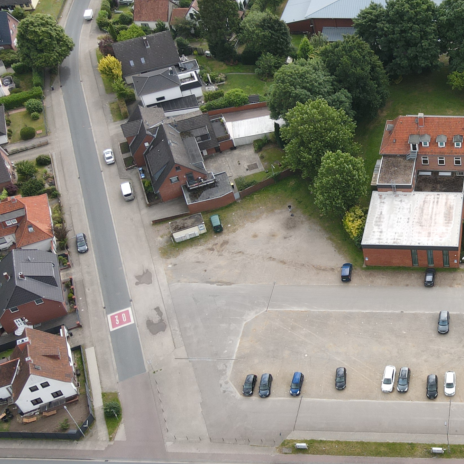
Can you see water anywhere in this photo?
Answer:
No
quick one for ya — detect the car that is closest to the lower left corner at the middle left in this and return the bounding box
[76,233,89,253]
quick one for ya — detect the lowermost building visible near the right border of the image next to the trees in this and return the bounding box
[362,114,464,269]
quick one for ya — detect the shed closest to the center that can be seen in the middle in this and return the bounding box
[172,213,210,240]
